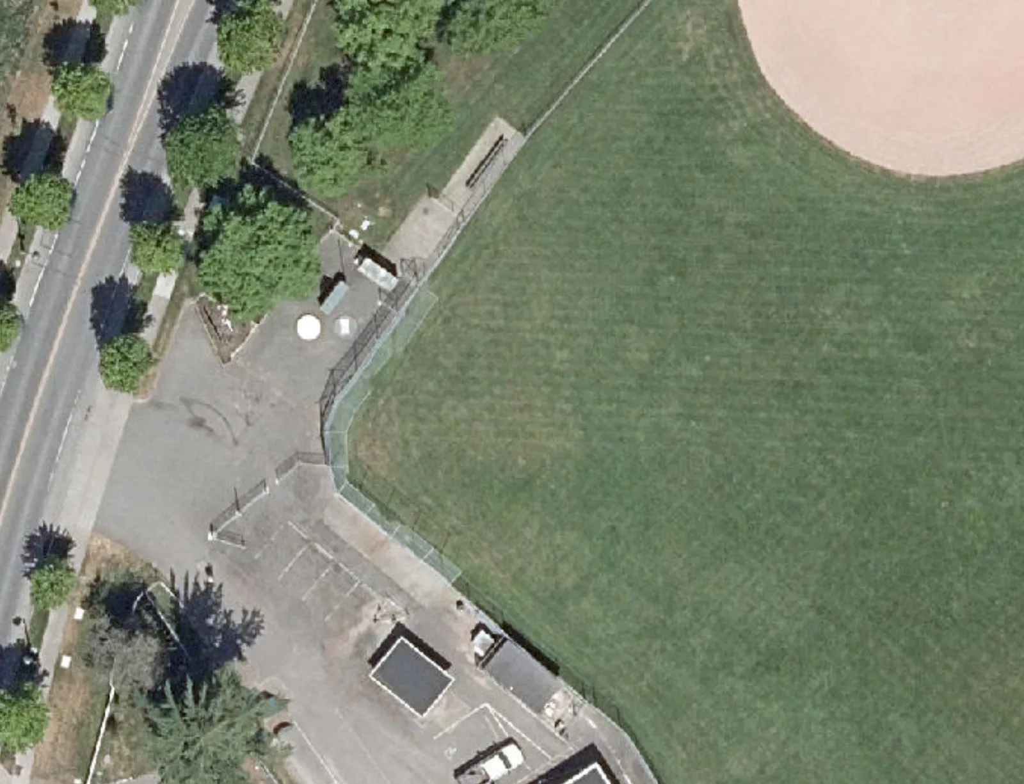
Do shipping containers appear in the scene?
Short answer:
Yes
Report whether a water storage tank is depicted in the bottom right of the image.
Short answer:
No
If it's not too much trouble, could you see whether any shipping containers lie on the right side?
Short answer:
No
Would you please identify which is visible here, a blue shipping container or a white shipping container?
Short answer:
white shipping container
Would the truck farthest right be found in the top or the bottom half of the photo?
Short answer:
bottom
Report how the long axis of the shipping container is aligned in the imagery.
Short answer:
on a diagonal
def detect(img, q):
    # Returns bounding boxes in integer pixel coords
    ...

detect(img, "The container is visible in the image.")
[356,258,397,291]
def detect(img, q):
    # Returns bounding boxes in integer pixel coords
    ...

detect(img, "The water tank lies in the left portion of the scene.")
[296,315,321,339]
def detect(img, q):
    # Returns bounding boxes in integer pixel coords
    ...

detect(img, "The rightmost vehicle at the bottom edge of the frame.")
[455,745,526,784]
